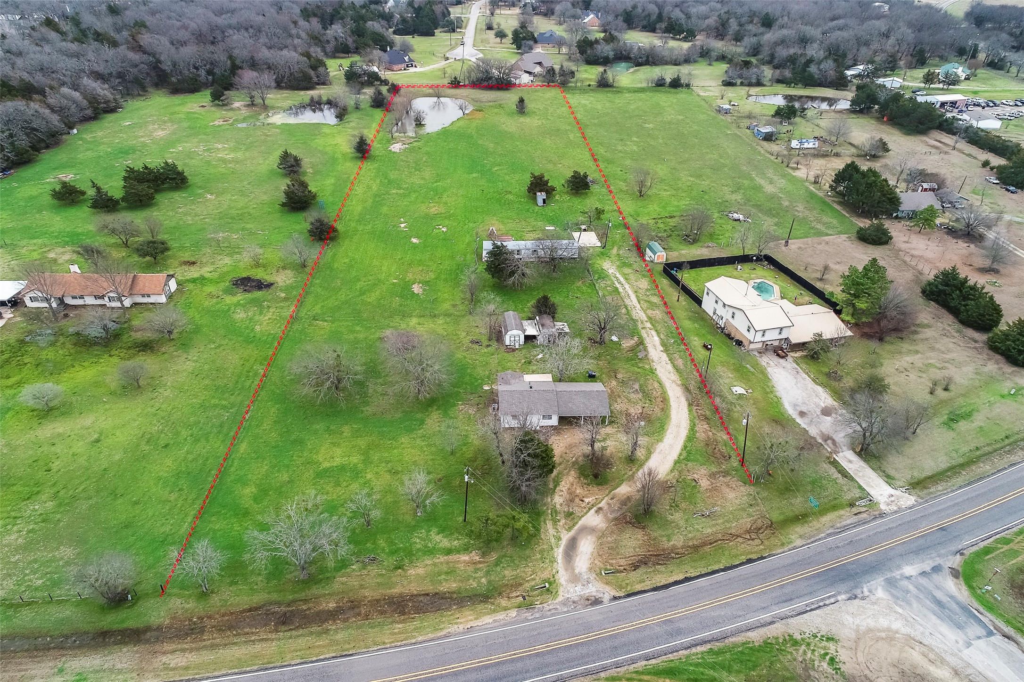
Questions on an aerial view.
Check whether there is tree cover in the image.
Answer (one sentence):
Yes, there is tree cover in the image.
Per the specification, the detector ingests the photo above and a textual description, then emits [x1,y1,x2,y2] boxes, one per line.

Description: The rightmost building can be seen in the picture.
[974,112,1005,130]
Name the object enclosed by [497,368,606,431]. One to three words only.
house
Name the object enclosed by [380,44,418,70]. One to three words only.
house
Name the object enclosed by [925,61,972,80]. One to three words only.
building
